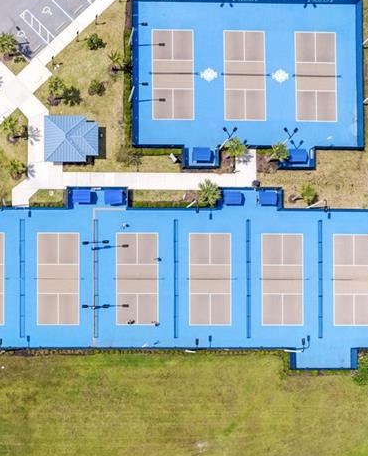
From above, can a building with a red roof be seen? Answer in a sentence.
No, there is no building with a red roof in the image.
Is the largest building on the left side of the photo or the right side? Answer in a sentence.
The largest building is on the left side of the image.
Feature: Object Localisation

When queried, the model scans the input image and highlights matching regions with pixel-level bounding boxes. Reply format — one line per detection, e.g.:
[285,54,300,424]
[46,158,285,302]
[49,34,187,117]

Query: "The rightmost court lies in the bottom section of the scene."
[330,234,368,325]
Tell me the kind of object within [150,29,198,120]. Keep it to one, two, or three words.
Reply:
sports court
